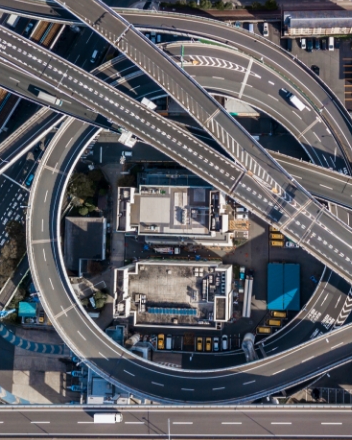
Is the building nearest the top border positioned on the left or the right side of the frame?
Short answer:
right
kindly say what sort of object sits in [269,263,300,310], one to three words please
shed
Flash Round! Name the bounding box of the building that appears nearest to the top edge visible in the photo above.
[283,9,352,38]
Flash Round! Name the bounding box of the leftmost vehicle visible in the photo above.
[5,14,20,30]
